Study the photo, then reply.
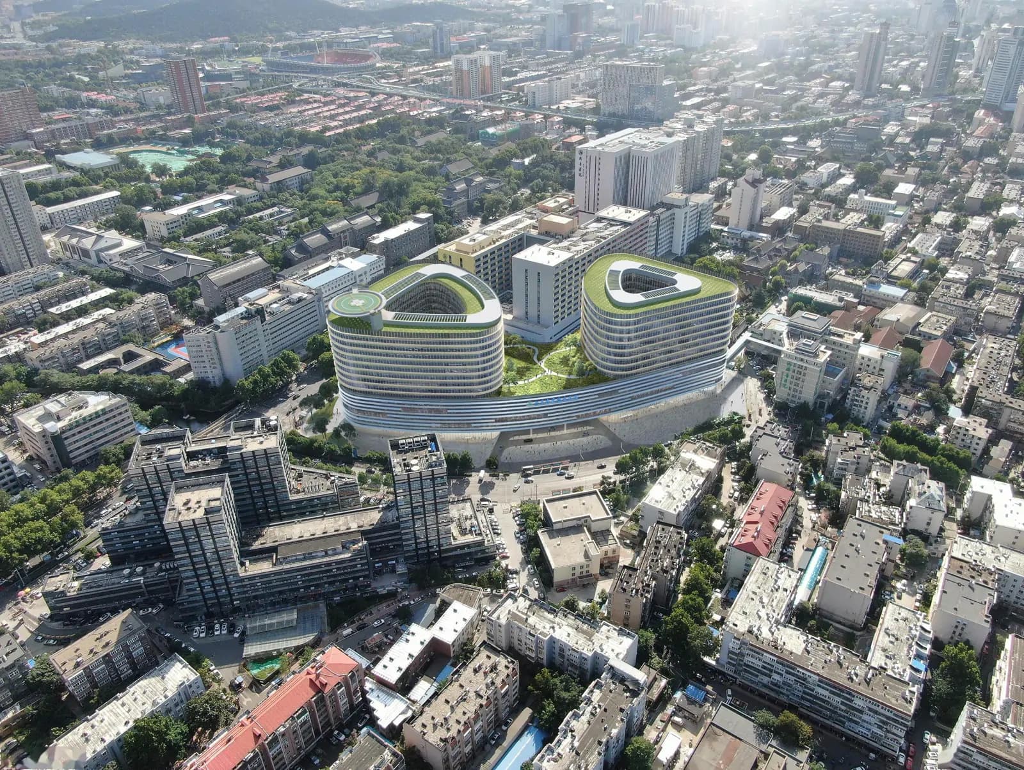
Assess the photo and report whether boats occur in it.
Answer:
No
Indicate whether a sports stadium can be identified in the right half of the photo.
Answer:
No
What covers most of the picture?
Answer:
buildings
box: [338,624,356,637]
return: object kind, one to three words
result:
vehicle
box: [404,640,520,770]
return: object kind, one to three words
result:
building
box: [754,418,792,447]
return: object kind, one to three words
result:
building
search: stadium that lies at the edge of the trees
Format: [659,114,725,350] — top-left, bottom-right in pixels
[256,31,382,78]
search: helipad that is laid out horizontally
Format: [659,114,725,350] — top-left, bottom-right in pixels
[325,285,389,316]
